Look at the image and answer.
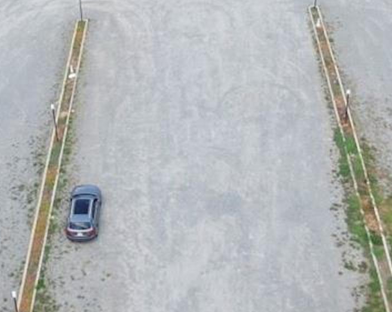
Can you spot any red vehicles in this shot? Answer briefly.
No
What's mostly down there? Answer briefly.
paved ground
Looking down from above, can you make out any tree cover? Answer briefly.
No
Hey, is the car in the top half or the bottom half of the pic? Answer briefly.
bottom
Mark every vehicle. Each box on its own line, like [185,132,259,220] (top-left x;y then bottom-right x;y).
[64,181,101,238]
